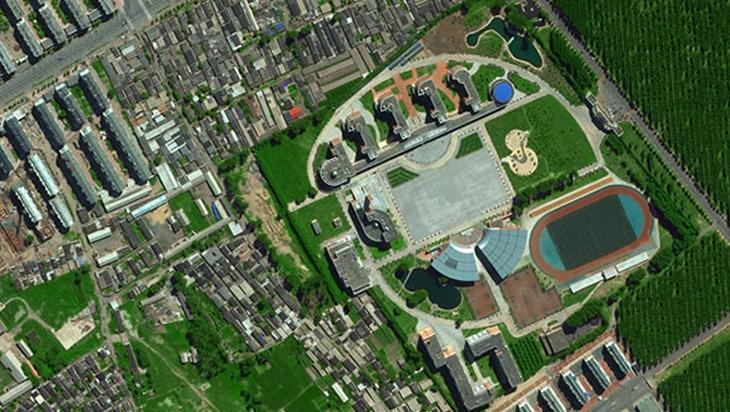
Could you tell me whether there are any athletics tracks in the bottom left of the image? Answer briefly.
No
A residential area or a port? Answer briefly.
residential area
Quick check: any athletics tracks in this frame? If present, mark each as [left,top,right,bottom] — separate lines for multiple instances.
[525,182,668,288]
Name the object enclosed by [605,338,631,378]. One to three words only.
building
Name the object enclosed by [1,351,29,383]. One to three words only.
shed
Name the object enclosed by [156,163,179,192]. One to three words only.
shed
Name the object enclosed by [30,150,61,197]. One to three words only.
building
